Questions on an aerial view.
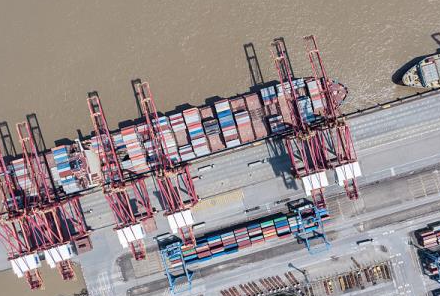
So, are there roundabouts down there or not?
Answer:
No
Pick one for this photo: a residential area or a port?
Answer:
port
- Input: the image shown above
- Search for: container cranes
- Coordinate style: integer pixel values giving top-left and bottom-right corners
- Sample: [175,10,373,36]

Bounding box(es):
[0,151,63,291]
[158,244,194,296]
[87,98,159,260]
[15,120,96,281]
[270,44,333,206]
[137,83,202,245]
[303,34,366,196]
[295,202,330,256]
